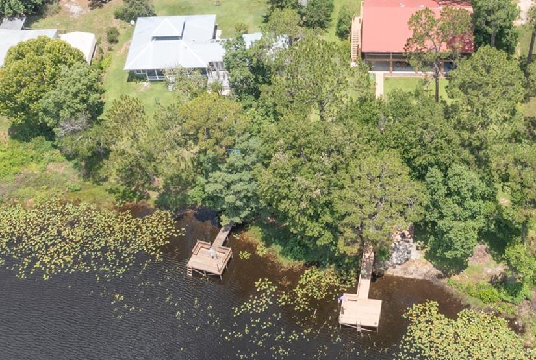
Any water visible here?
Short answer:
Yes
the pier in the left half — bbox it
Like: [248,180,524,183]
[186,221,236,279]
